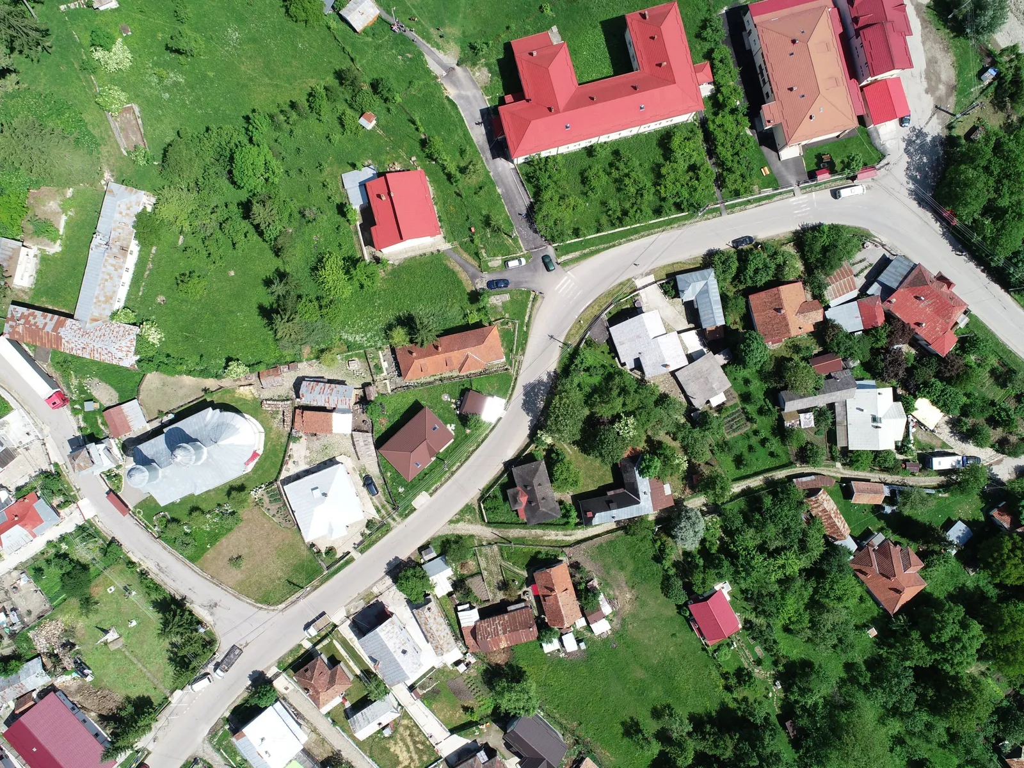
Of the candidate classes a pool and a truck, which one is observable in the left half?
truck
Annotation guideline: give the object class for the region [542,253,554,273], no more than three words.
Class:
vehicle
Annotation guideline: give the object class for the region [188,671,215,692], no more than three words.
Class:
vehicle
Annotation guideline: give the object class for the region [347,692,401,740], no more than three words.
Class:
house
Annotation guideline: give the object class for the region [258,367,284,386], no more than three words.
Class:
shed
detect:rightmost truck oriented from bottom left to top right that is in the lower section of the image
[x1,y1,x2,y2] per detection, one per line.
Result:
[304,610,332,634]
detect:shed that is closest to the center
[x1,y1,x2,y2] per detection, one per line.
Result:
[462,391,505,422]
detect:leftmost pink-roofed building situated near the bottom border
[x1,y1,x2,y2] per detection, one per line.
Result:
[3,683,128,768]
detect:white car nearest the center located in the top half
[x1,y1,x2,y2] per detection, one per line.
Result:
[504,257,525,269]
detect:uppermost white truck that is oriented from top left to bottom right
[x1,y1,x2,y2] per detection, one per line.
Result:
[0,336,73,408]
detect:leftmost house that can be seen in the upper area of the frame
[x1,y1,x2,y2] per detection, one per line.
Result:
[0,240,41,289]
